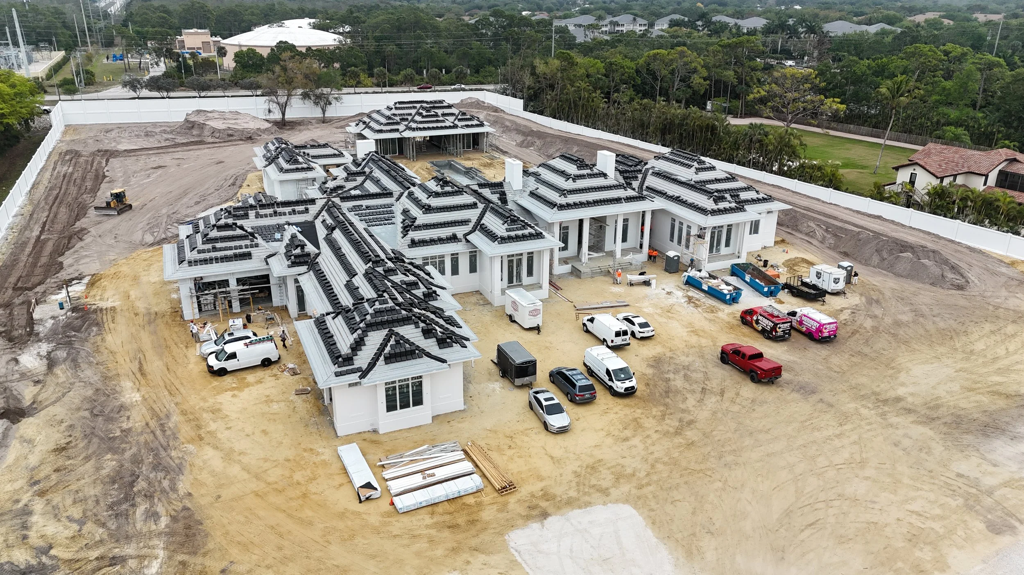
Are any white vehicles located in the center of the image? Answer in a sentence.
Yes, a white vehicle shows up in the center of the image.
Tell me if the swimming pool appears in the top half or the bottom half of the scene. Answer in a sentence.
Seen from above, the swimming pool lies in the top half of the view.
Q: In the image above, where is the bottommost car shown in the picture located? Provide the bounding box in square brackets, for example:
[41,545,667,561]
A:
[528,391,572,434]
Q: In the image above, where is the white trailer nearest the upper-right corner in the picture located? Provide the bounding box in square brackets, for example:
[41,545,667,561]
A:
[806,261,852,295]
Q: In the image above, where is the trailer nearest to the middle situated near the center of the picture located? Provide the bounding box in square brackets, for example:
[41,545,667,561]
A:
[506,291,545,333]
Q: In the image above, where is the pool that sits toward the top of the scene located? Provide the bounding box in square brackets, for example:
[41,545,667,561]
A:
[425,159,492,195]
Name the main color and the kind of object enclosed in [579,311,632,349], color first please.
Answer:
white van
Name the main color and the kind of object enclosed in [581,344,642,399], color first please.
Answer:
white van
